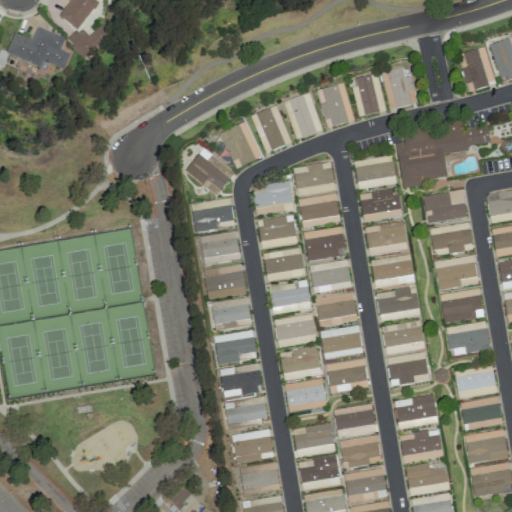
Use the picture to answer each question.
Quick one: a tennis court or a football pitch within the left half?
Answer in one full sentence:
You can see a tennis court within the left half.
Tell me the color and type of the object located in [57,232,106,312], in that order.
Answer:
green tennis court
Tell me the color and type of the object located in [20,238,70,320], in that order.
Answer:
green tennis court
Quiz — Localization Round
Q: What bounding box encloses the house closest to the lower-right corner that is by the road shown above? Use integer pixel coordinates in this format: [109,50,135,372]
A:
[468,464,512,498]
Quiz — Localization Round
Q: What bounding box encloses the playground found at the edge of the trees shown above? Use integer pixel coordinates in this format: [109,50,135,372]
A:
[72,420,138,472]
